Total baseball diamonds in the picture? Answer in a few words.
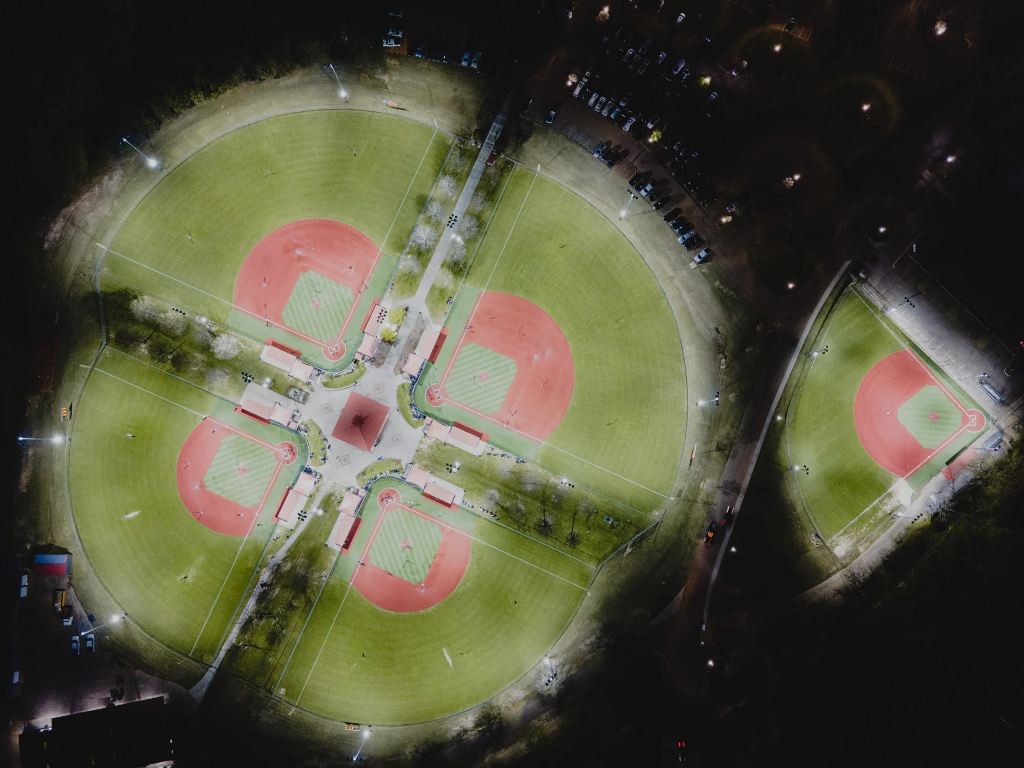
5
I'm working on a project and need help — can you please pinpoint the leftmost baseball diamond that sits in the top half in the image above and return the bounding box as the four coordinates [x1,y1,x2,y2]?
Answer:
[99,109,456,373]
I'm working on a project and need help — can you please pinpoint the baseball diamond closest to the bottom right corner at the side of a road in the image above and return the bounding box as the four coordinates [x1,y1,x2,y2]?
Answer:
[786,285,993,560]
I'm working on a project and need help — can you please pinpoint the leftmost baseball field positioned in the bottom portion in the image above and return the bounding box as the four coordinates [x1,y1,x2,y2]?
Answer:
[68,346,308,667]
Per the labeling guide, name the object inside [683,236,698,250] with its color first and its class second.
black car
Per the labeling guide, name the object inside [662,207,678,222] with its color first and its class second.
black vehicle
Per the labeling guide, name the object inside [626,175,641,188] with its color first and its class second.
black vehicle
